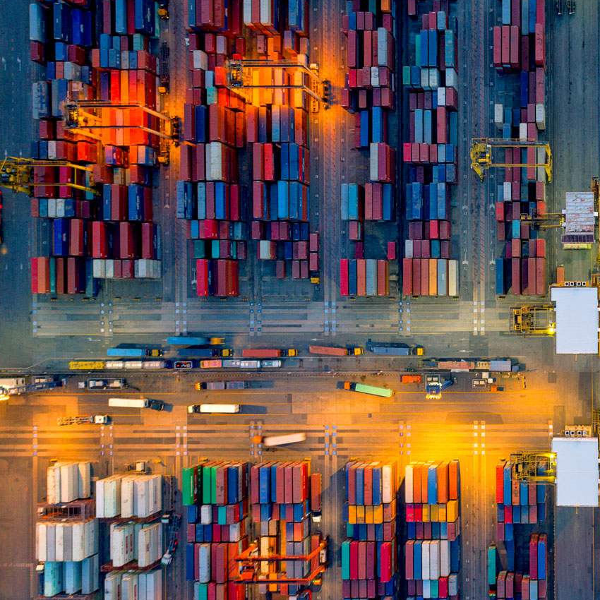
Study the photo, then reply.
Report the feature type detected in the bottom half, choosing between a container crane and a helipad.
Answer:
container crane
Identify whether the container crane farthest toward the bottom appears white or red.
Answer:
red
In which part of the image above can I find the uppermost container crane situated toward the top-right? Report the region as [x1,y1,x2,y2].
[469,138,554,184]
